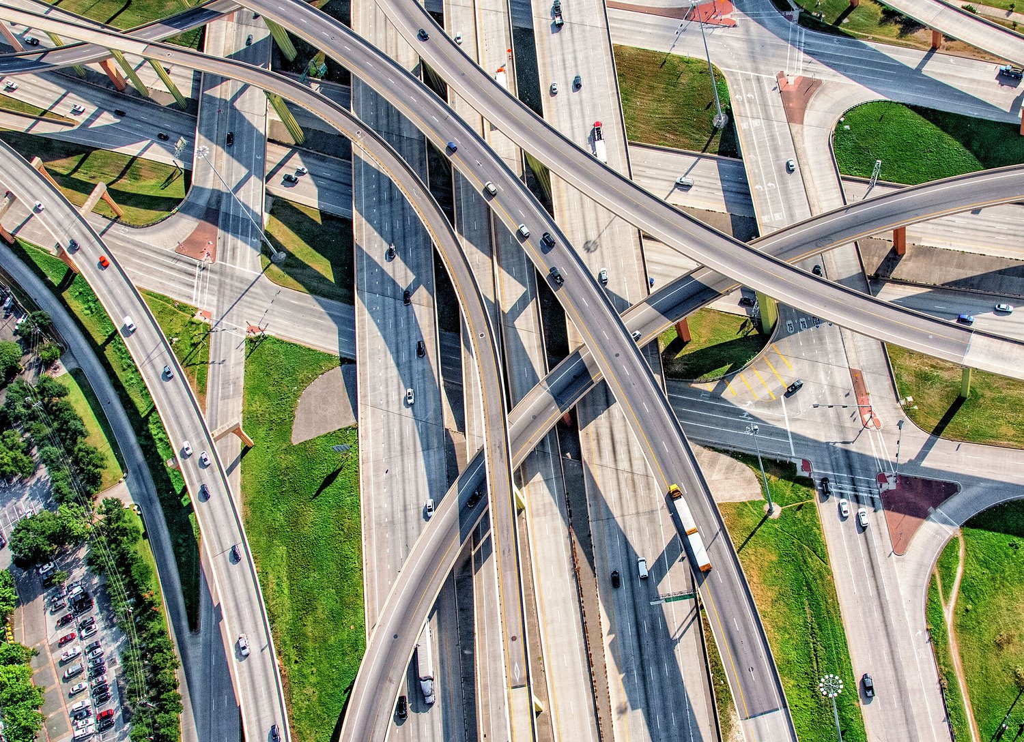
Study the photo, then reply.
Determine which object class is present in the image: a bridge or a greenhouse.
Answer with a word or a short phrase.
bridge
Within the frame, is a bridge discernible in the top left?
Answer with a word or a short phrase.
Yes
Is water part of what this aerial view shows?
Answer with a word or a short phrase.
No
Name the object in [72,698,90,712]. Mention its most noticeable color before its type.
white car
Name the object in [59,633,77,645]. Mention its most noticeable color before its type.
red vehicle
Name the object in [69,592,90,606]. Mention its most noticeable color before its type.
black vehicle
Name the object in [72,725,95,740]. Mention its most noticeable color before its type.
white vehicle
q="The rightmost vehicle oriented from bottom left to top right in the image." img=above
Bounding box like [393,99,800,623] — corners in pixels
[781,376,804,394]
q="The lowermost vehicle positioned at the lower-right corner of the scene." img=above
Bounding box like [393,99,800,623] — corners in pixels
[861,672,875,699]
